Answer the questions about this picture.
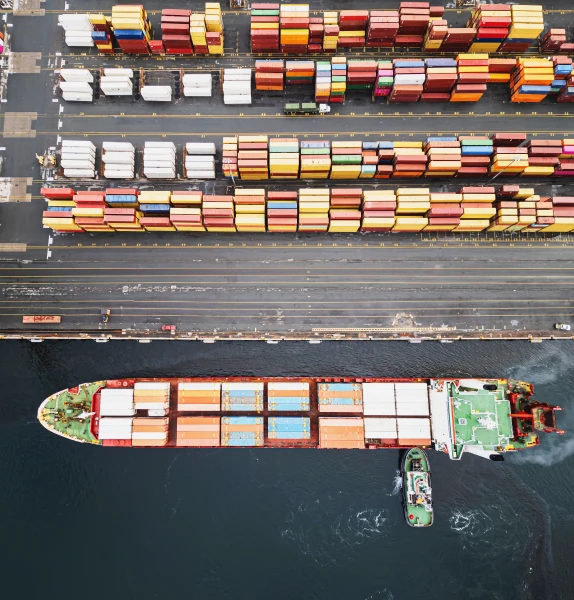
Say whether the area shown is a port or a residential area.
port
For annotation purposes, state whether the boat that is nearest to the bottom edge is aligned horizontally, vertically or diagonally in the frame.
vertically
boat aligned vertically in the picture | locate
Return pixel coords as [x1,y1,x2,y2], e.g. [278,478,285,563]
[401,448,436,530]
